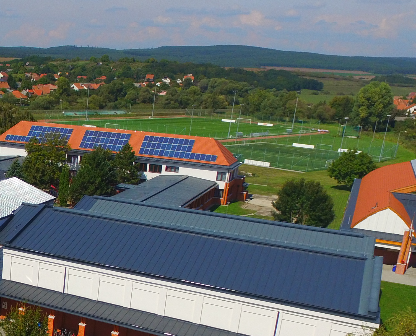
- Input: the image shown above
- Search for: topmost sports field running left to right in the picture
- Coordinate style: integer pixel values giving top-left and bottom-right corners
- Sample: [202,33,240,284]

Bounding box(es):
[37,120,308,136]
